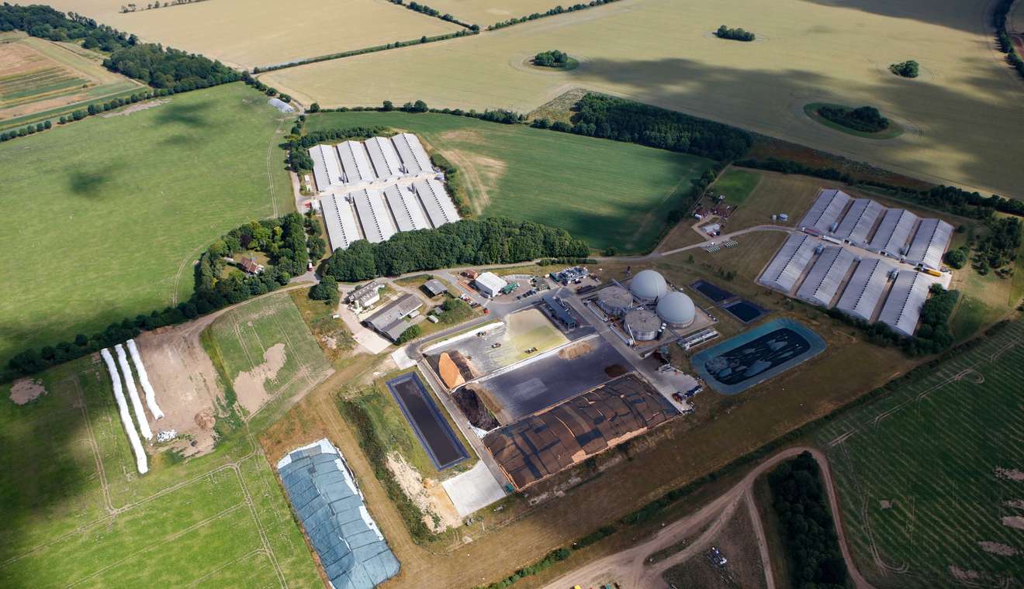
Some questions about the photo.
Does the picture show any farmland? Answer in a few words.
Yes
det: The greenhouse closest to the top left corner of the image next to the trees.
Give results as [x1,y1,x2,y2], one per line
[264,95,297,113]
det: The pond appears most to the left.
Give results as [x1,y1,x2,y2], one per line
[380,369,477,477]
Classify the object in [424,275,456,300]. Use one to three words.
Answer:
barn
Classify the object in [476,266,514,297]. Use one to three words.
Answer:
building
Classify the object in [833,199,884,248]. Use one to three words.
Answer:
shed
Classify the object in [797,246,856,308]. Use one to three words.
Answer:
shed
